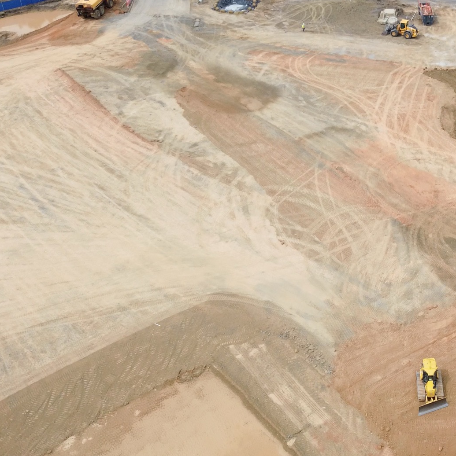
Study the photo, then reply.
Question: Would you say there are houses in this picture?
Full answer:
No, this view has no house in it.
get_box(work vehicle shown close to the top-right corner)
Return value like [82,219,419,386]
[386,19,419,38]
